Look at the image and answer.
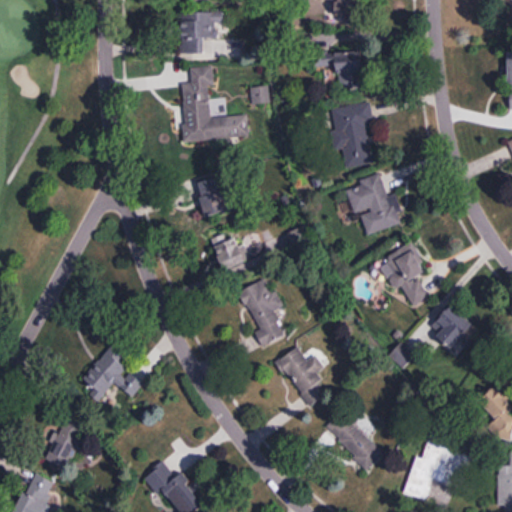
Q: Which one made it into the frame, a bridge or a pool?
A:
pool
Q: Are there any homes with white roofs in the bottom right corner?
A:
Yes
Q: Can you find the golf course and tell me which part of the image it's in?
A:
top left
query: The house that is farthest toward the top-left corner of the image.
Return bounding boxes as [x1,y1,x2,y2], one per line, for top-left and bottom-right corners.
[180,10,224,52]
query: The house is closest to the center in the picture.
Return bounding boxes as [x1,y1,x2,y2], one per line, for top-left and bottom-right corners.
[211,232,246,272]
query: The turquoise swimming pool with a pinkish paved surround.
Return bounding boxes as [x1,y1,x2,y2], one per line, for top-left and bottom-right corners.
[354,272,384,310]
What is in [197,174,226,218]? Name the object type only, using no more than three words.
house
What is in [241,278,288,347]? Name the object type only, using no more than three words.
house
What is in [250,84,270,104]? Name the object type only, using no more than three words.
building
